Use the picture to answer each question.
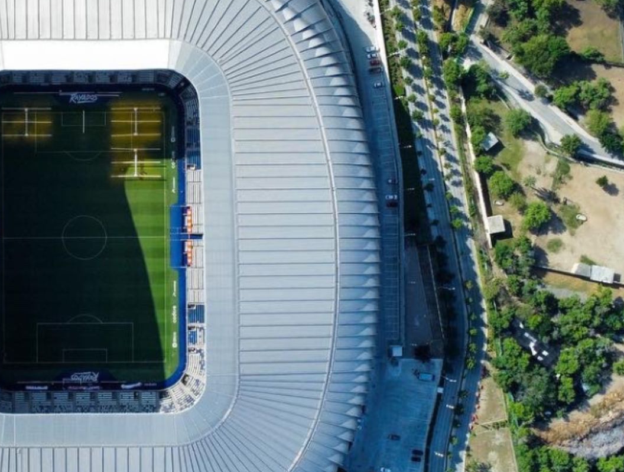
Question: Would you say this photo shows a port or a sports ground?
sports ground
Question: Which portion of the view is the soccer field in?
left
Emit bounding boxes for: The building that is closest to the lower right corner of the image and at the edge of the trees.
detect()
[508,319,554,362]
